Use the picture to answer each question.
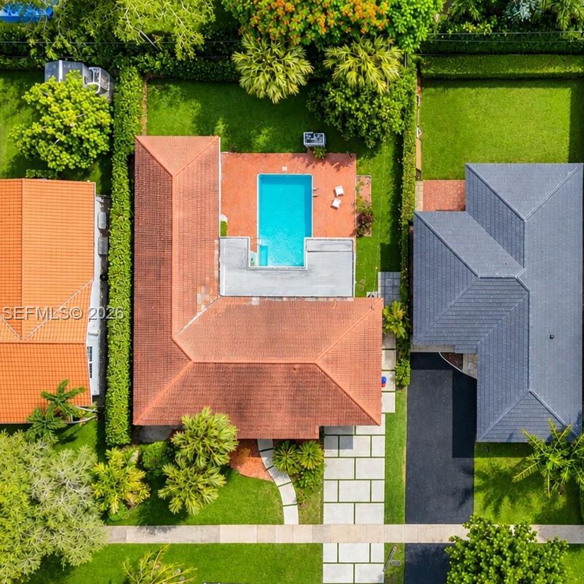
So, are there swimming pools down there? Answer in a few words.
Yes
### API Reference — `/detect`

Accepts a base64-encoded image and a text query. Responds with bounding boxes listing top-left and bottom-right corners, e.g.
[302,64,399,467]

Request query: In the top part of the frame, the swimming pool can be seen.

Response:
[251,173,320,268]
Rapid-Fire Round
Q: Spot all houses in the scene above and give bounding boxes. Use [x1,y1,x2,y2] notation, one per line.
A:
[0,179,104,423]
[133,135,383,439]
[413,163,584,442]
